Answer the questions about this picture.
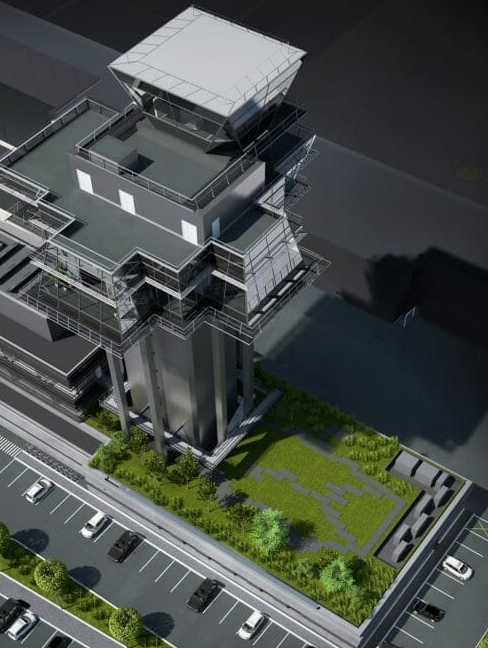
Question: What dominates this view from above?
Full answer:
What you mostly see from above here is buildings.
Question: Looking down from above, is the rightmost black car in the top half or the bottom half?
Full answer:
Seen from above, the rightmost black car lies in the bottom half of the view.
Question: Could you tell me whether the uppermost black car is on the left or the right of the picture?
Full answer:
The uppermost black car appears in the left half of the scene.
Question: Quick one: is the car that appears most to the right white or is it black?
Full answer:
The car that appears most to the right looks white in the image.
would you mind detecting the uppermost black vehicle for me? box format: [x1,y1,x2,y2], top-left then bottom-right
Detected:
[107,528,141,563]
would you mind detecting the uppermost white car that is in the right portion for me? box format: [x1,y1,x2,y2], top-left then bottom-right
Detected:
[439,555,474,582]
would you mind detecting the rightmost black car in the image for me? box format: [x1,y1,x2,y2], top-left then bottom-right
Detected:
[408,598,448,626]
